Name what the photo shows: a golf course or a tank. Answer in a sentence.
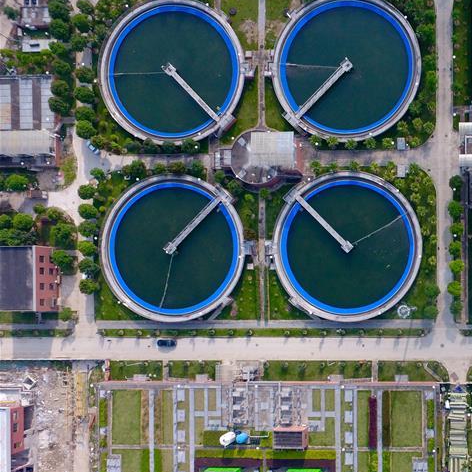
Of the two, only a tank appears.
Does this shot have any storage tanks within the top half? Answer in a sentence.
Yes, I can see a storage tank within the top half.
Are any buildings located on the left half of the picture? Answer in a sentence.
Yes, a building shows up on the left half of the picture.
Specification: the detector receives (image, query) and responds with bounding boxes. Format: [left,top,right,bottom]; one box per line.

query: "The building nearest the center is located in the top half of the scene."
[214,131,303,192]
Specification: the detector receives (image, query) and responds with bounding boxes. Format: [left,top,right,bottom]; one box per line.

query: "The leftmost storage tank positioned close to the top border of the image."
[98,0,256,145]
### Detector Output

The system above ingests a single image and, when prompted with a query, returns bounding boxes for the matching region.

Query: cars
[84,139,102,156]
[158,338,177,346]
